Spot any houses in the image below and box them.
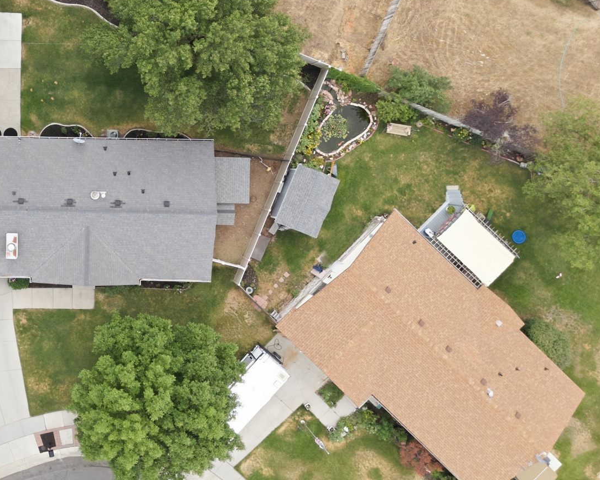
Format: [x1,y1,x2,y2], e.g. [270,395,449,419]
[0,134,218,287]
[268,207,587,480]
